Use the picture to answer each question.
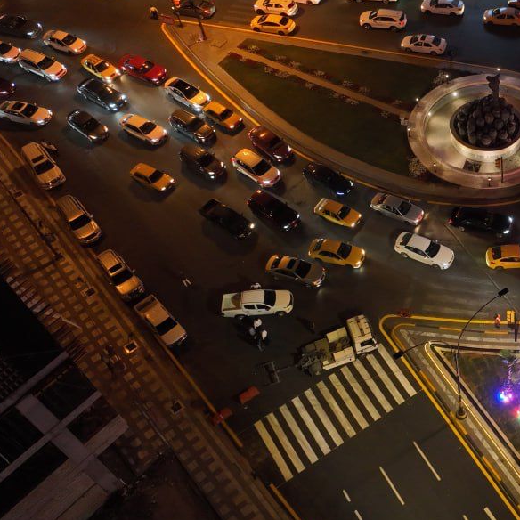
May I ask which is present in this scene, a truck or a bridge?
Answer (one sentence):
There is a truck in the scene.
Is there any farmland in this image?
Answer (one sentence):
No, no farmland is visible.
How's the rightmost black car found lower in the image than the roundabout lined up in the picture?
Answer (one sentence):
What the image shows is the rightmost black car found lower in the image than the roundabout lying from side to side.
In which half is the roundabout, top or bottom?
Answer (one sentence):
The roundabout sits in the top half of the picture.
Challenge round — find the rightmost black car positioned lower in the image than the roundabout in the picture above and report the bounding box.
[452,206,510,236]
